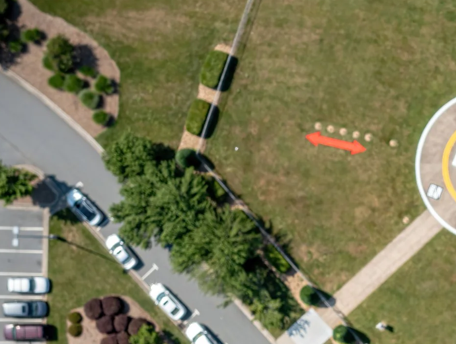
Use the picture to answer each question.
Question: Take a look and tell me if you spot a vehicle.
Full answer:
Yes, a vehicle is visible in the scene.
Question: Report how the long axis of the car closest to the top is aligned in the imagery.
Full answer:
The car closest to the top is laid out at an angle.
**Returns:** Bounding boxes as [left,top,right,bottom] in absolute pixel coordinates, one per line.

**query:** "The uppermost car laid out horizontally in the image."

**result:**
[8,276,52,295]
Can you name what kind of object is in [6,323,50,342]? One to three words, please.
vehicle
